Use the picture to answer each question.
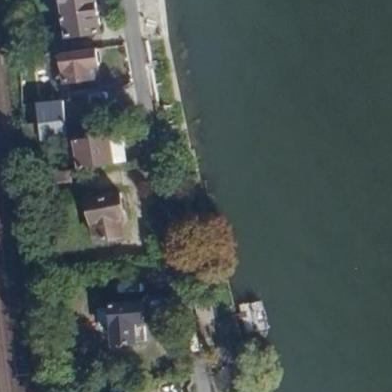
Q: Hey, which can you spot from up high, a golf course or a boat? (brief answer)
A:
boat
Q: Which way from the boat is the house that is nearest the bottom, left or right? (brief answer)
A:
to its left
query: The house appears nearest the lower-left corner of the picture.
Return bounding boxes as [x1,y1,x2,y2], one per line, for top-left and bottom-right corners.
[107,296,152,344]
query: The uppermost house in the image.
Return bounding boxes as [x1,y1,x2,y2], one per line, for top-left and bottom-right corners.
[58,0,107,41]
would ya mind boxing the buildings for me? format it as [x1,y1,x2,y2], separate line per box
[54,170,74,185]
[56,46,106,84]
[58,0,107,41]
[84,185,131,240]
[72,137,128,171]
[107,296,152,344]
[34,100,68,142]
